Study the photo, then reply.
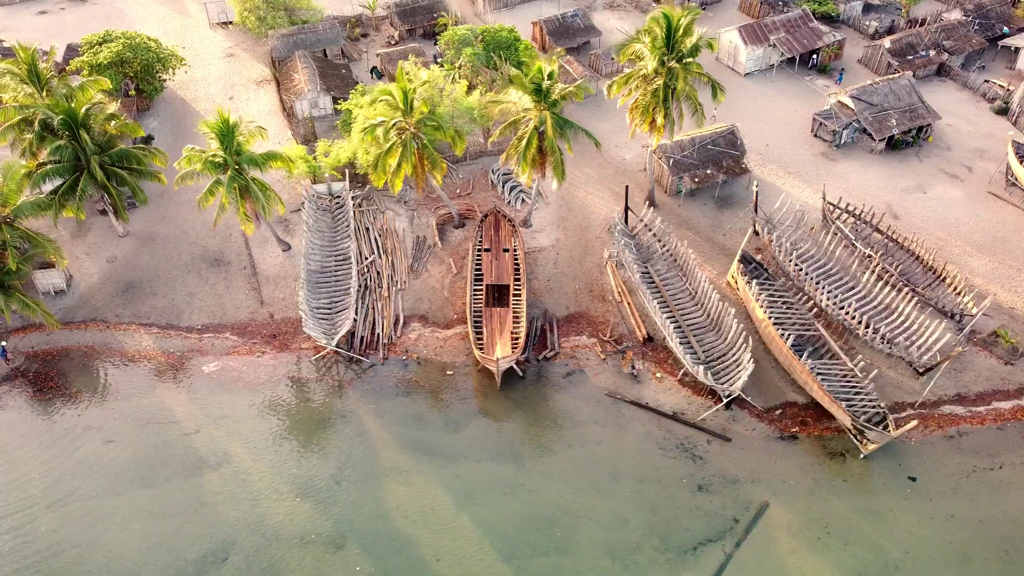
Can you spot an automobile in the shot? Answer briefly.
No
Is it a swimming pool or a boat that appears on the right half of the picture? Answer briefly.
boat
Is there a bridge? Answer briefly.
No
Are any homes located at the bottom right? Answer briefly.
No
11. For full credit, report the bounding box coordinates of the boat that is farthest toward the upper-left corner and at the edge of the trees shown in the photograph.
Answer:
[293,174,372,355]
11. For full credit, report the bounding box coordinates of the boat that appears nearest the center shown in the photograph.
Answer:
[464,207,530,392]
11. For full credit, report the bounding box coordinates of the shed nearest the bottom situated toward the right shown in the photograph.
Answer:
[646,130,773,202]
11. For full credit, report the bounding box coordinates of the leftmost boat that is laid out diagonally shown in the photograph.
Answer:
[621,185,758,403]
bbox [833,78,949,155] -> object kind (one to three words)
house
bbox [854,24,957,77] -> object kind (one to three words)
shed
